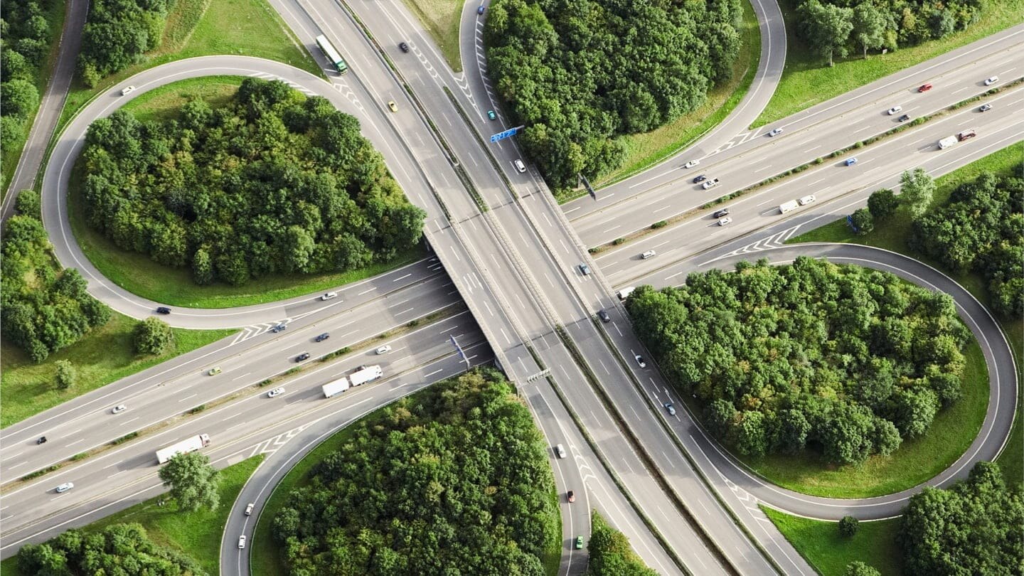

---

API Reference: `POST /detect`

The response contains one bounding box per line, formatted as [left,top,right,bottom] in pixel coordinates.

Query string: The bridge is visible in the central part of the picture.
[423,165,642,382]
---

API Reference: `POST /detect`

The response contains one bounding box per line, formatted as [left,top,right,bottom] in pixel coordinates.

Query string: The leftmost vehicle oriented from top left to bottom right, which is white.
[317,35,346,73]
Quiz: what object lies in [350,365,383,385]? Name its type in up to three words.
vehicle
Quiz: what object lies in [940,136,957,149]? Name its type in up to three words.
vehicle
